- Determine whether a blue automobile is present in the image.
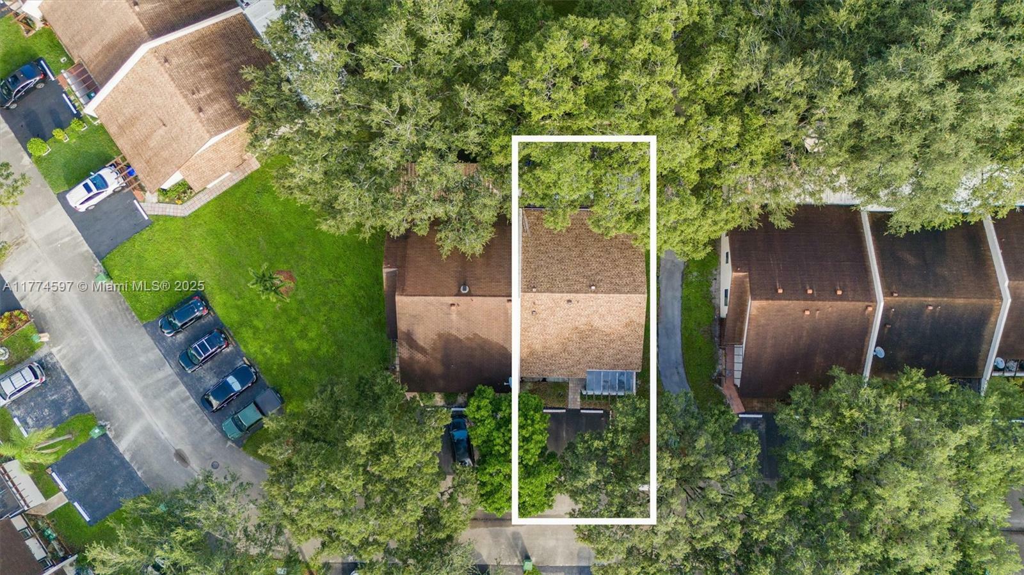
Yes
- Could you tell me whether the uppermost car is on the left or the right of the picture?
left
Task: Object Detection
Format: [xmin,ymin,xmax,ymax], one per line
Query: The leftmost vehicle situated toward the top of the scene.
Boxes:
[0,60,56,110]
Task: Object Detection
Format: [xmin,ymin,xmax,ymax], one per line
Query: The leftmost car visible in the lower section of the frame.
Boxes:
[0,357,57,407]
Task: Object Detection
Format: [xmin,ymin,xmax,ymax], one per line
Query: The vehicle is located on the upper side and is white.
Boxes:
[68,163,131,212]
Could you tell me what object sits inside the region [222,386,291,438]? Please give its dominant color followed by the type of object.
blue truck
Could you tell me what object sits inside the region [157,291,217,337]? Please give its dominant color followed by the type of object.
blue car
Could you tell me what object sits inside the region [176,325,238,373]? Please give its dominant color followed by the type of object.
blue car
